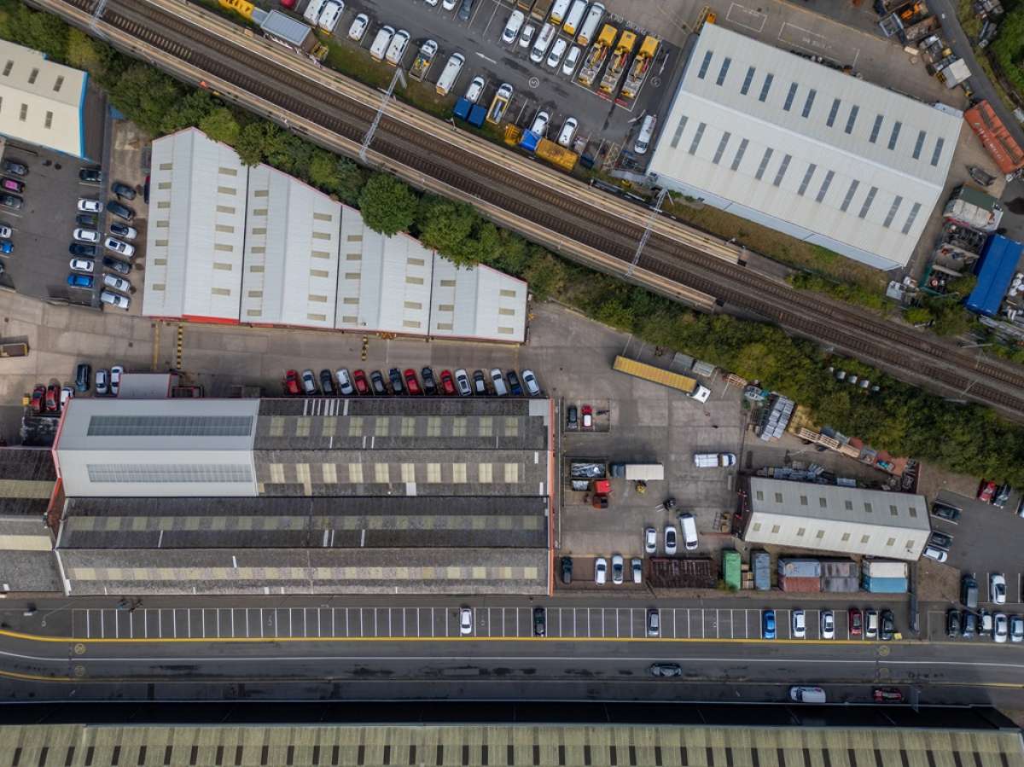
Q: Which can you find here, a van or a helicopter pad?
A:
van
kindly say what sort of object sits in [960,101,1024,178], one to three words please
shipping container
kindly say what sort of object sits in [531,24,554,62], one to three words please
vehicle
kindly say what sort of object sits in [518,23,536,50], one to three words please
car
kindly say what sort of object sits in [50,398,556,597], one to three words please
building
